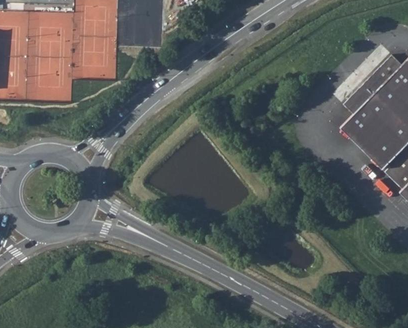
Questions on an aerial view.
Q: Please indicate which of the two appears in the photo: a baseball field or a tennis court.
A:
tennis court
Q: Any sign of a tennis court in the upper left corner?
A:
Yes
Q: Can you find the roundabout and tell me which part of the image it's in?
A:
left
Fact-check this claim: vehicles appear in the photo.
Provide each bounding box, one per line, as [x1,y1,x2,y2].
[264,23,276,31]
[2,216,8,227]
[74,144,85,152]
[114,130,124,138]
[31,160,42,168]
[58,221,70,226]
[25,240,36,249]
[361,165,378,182]
[249,23,261,32]
[375,179,392,197]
